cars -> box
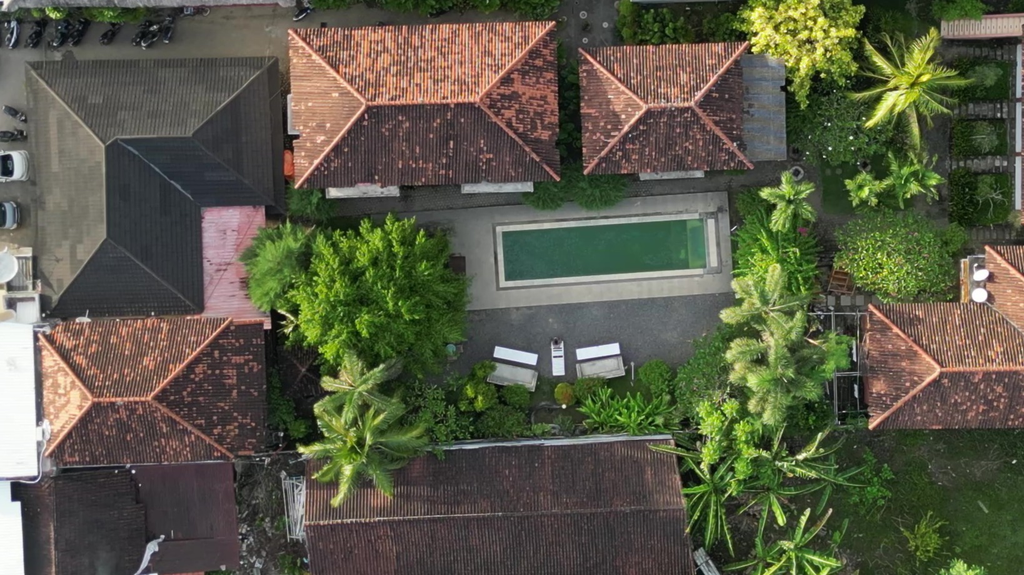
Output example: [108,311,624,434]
[0,200,23,229]
[0,145,29,183]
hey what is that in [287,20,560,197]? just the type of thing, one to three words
house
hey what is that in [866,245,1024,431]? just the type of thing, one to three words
house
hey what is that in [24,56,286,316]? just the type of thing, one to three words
building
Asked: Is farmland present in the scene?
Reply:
No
